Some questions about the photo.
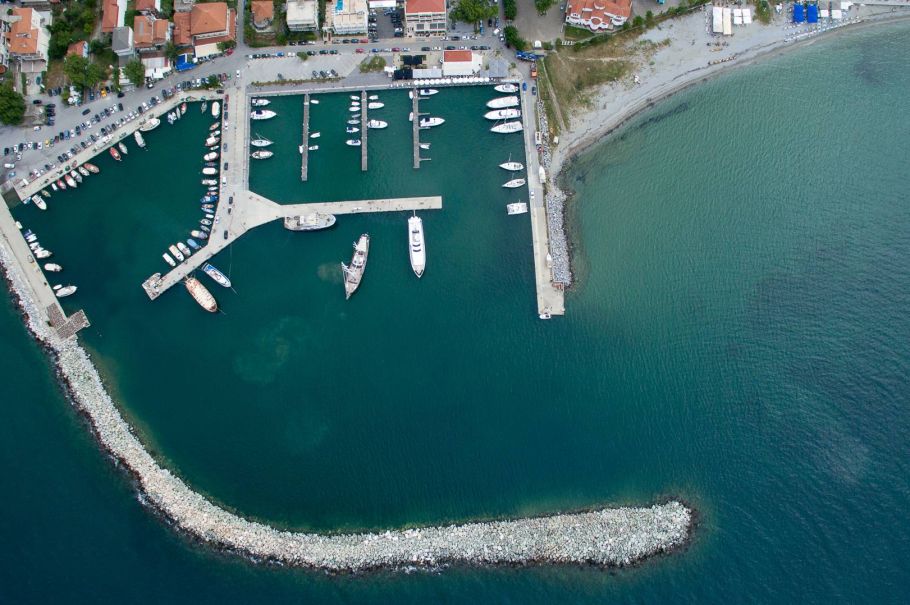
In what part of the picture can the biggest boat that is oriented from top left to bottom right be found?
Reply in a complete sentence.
Look in the left portion of the view to spot the biggest boat that is oriented from top left to bottom right.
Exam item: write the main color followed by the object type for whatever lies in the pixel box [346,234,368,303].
white ship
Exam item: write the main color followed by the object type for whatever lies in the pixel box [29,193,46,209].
white boat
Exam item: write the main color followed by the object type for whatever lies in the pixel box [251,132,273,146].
white boat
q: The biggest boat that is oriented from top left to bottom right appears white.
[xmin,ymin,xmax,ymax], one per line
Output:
[182,275,218,314]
